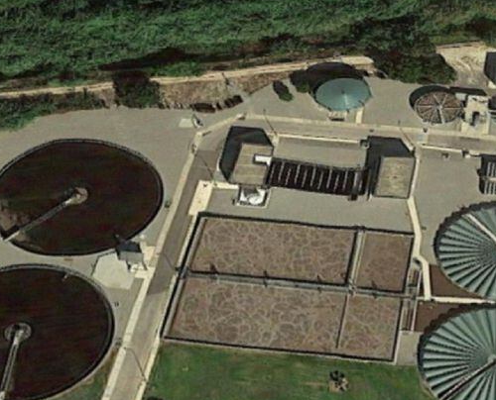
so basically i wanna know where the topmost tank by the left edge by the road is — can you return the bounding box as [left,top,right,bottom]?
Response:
[0,136,163,258]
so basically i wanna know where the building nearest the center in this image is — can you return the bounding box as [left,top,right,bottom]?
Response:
[229,142,273,198]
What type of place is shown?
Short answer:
industrial area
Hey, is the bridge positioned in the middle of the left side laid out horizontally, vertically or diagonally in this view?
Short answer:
diagonally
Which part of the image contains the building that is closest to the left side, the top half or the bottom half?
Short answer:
bottom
